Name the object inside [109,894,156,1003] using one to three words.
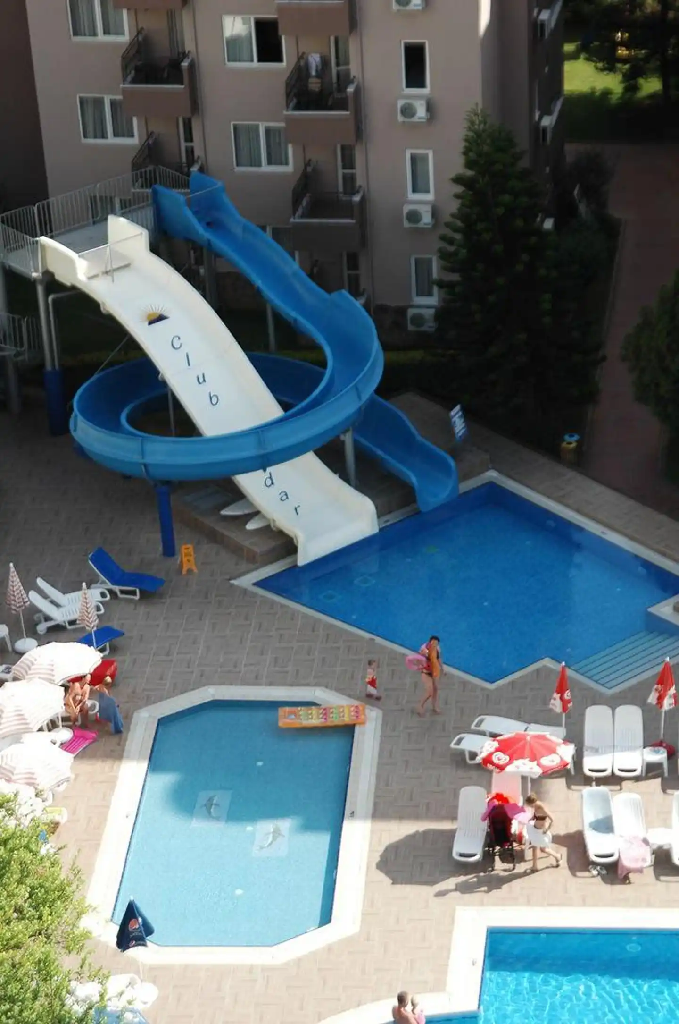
umbrella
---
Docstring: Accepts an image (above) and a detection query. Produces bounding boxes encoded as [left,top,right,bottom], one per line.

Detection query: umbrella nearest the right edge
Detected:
[651,653,678,759]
